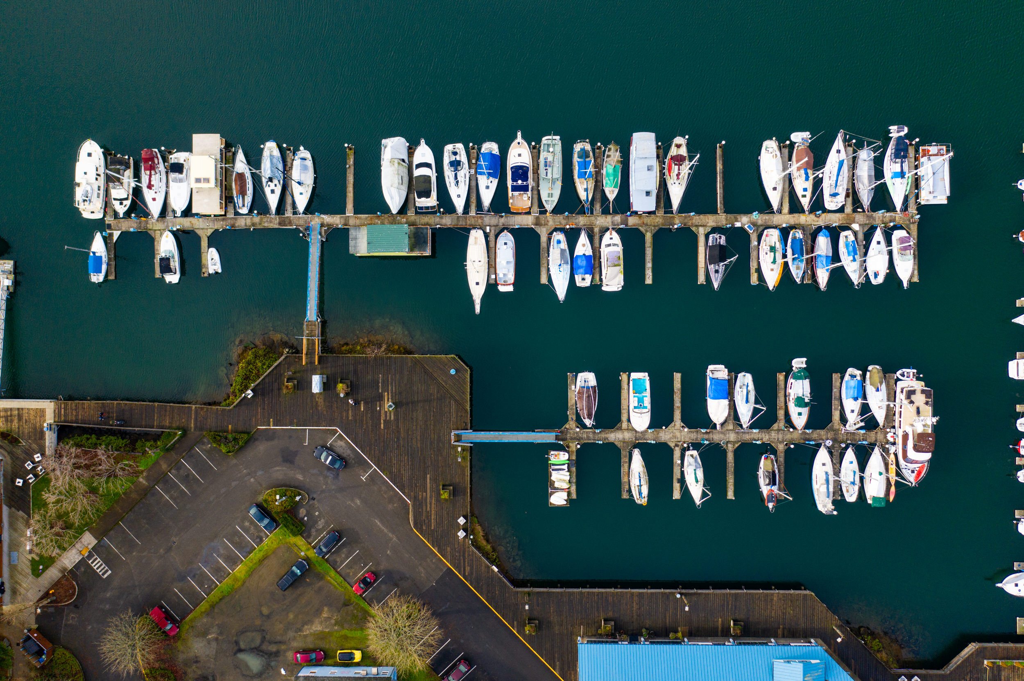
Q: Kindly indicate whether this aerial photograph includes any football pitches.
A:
No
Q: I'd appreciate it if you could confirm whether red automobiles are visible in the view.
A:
Yes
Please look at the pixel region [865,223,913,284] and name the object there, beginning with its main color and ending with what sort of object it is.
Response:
white boat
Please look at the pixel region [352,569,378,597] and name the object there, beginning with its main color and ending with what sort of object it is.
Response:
red car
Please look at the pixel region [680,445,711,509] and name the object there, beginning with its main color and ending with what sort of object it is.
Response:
white boat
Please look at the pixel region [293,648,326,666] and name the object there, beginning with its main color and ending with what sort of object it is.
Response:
red car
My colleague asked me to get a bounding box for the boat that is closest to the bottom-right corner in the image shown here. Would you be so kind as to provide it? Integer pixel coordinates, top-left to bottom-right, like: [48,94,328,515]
[993,570,1024,598]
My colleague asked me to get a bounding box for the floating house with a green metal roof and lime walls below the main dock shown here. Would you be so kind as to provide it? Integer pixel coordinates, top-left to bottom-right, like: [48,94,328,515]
[349,224,434,256]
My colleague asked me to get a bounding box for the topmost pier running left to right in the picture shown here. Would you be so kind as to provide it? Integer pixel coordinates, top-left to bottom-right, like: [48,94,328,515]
[106,143,919,284]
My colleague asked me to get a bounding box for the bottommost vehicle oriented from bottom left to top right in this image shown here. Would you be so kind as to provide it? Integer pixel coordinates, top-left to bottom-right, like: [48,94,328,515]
[441,658,472,681]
